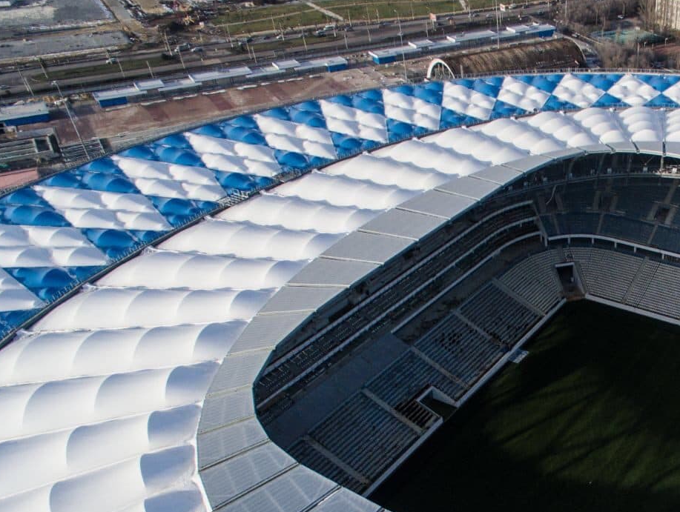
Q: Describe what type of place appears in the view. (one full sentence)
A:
It's a sports ground.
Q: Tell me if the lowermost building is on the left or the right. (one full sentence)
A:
The lowermost building sits on the left side.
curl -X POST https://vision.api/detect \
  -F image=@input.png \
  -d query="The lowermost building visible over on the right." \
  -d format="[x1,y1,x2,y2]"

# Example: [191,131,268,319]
[372,25,556,64]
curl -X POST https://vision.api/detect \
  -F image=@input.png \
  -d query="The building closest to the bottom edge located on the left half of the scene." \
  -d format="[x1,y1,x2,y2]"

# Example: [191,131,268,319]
[0,100,52,125]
